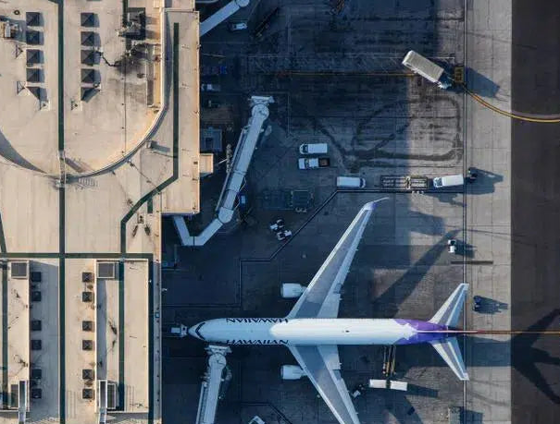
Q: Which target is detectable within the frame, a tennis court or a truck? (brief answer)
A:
truck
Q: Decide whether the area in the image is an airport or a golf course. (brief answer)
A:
airport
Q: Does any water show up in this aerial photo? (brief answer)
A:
No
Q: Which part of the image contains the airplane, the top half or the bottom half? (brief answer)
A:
bottom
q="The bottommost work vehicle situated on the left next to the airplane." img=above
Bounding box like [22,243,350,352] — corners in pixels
[170,324,188,337]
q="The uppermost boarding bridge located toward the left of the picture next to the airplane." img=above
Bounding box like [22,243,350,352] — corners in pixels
[167,93,272,247]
